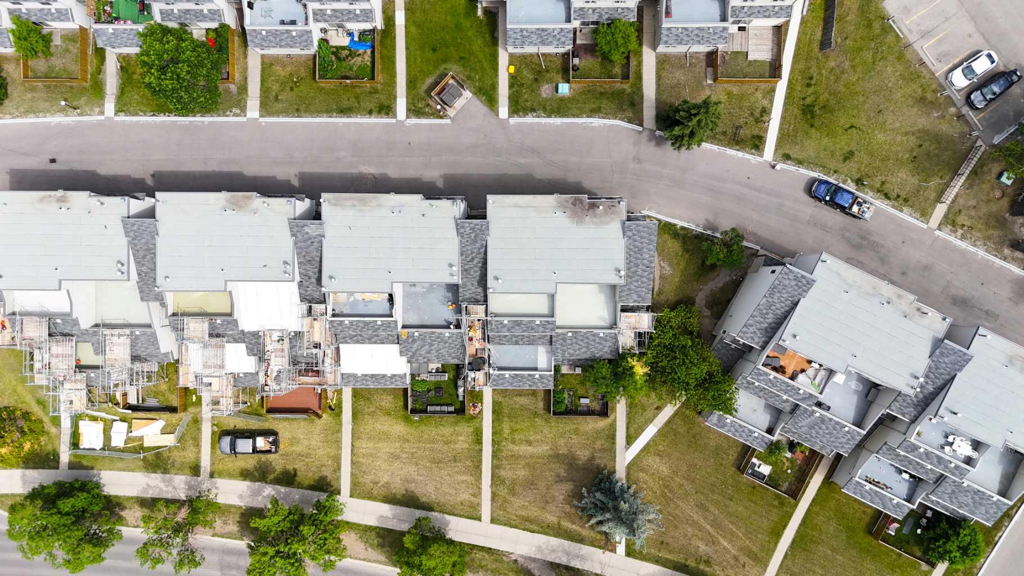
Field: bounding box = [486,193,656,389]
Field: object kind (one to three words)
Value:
house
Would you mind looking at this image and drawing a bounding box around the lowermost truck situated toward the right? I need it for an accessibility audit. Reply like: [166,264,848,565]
[806,178,876,224]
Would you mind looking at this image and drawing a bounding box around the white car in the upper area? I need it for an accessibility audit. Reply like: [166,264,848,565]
[943,48,998,90]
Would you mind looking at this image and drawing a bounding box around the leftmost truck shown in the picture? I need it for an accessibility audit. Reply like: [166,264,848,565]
[220,431,282,457]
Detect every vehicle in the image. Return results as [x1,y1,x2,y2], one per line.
[965,69,1022,113]
[943,48,998,90]
[220,431,282,457]
[806,178,876,224]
